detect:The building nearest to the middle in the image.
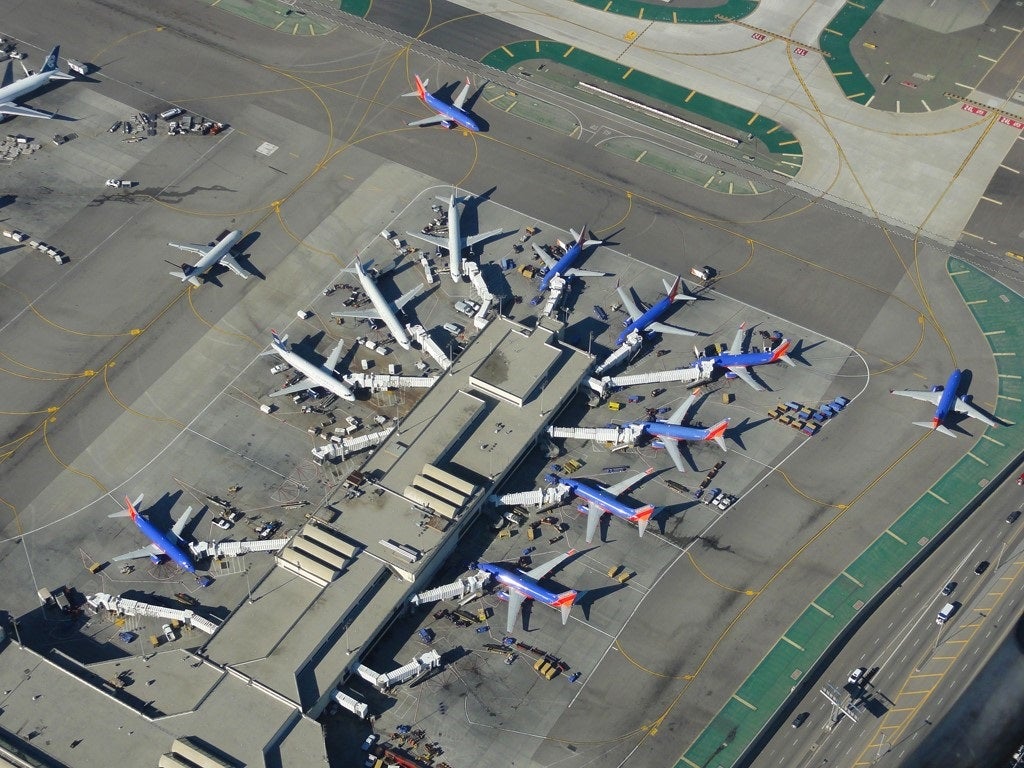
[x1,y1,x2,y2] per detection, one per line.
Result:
[196,315,596,725]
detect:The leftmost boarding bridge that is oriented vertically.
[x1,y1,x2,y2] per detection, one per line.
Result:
[463,261,491,341]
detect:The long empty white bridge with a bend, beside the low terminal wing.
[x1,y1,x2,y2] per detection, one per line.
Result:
[87,598,218,636]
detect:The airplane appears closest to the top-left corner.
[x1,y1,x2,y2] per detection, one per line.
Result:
[0,47,76,126]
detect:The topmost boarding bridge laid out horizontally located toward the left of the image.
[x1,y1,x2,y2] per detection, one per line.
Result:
[350,375,438,403]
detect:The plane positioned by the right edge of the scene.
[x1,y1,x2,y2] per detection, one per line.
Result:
[889,370,999,438]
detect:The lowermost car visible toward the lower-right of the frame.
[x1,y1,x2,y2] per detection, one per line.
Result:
[791,713,806,730]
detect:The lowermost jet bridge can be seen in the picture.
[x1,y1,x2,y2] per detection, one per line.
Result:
[329,687,374,727]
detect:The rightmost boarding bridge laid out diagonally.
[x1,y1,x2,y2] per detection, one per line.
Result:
[592,337,636,391]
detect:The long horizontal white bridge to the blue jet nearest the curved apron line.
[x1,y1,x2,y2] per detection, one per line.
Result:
[594,363,710,403]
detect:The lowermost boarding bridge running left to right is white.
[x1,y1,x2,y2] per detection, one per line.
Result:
[352,650,441,698]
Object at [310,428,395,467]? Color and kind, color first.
white jet bridge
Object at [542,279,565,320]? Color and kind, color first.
white jet bridge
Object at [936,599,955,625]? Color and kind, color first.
white vehicle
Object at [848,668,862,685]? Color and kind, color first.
white car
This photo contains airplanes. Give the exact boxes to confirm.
[167,230,248,286]
[622,387,731,472]
[559,467,666,544]
[616,275,702,346]
[889,370,999,438]
[108,493,196,574]
[402,74,480,132]
[691,321,796,390]
[0,47,76,126]
[478,548,589,634]
[531,223,605,295]
[406,194,502,284]
[331,251,424,351]
[258,330,356,402]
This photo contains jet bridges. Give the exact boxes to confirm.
[594,363,710,403]
[408,572,485,618]
[491,485,569,519]
[329,687,374,727]
[352,650,441,698]
[189,540,287,571]
[310,428,395,467]
[592,337,636,391]
[542,279,565,320]
[406,325,453,375]
[463,261,491,341]
[545,425,645,455]
[350,375,438,403]
[87,598,218,636]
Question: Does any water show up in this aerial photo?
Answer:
No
